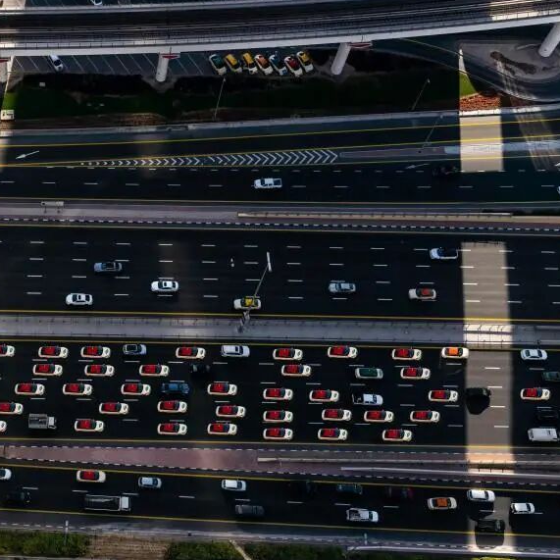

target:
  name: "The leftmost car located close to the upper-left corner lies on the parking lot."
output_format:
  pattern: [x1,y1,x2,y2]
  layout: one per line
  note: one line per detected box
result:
[47,54,65,71]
